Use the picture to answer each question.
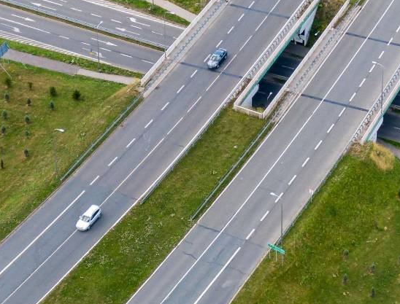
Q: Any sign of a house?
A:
No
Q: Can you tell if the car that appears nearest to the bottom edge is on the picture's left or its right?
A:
left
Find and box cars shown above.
[206,51,228,69]
[75,207,104,231]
